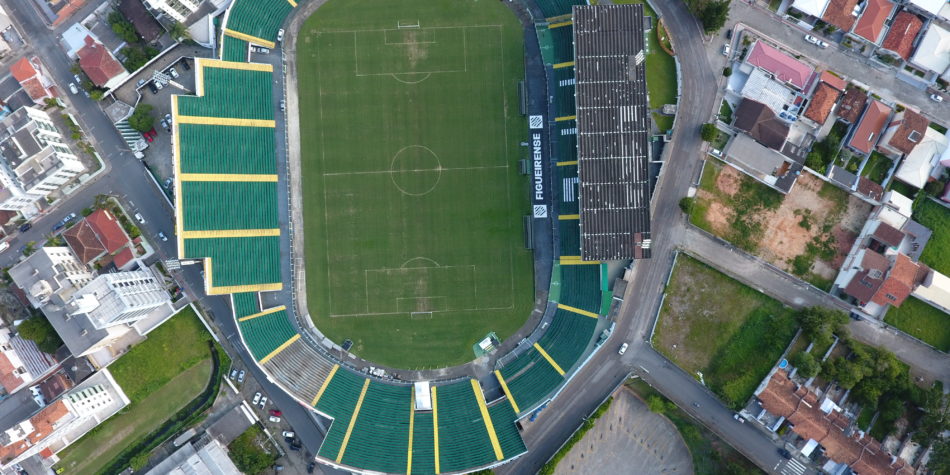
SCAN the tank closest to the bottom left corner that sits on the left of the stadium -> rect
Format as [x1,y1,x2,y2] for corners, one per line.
[26,277,57,301]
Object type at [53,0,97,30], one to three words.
house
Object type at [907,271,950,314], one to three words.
building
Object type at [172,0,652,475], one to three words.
stadium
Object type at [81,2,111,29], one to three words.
shed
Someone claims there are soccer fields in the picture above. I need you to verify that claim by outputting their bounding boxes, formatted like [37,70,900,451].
[299,0,533,370]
